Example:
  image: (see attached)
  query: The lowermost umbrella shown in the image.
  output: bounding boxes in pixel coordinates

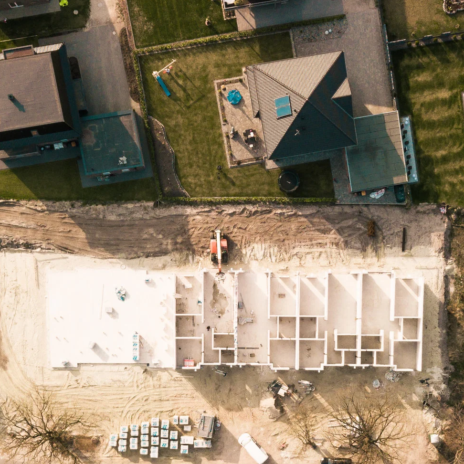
[226,86,241,103]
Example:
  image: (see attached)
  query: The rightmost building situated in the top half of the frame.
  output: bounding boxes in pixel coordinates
[345,111,407,192]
